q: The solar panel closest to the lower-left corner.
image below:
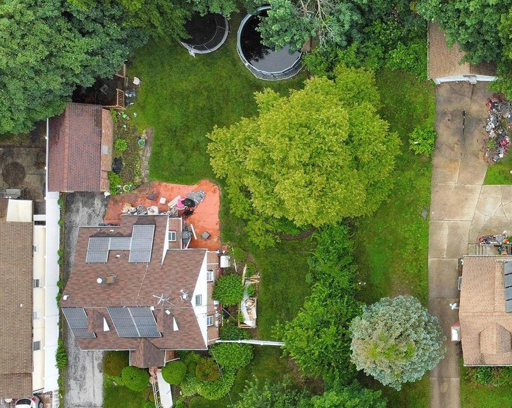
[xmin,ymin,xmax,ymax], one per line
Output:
[61,309,94,338]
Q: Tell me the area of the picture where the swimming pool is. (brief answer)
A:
top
